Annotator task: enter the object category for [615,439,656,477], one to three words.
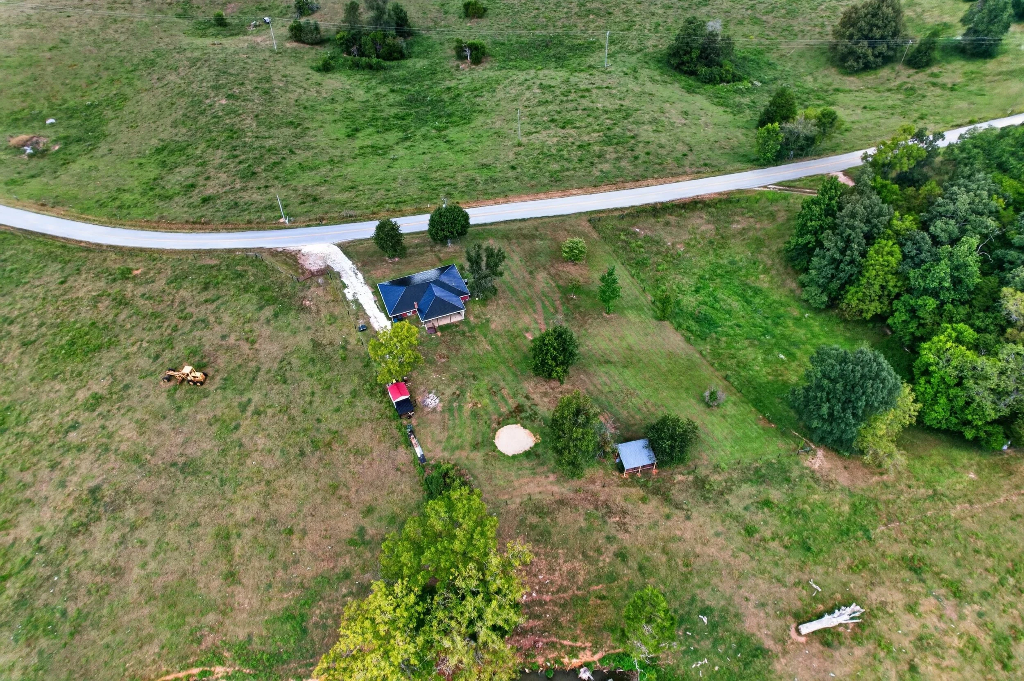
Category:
shed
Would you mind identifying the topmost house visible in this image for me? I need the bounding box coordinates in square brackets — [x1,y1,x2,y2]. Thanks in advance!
[375,265,474,338]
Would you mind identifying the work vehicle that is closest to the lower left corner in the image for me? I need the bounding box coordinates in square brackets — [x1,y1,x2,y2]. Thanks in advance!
[161,364,206,384]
